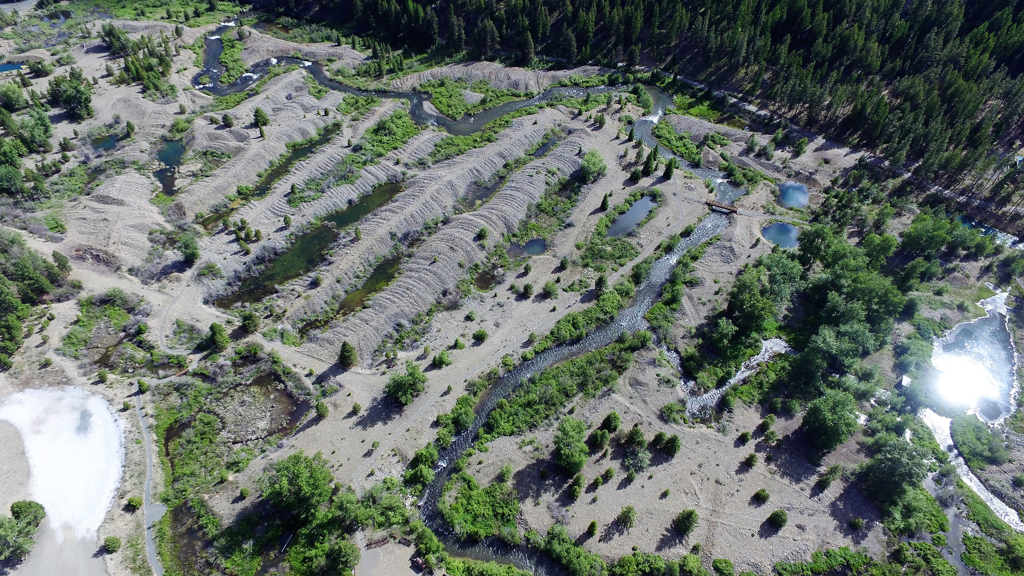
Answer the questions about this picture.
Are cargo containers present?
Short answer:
No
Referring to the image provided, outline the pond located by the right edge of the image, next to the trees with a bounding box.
[928,296,1020,429]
